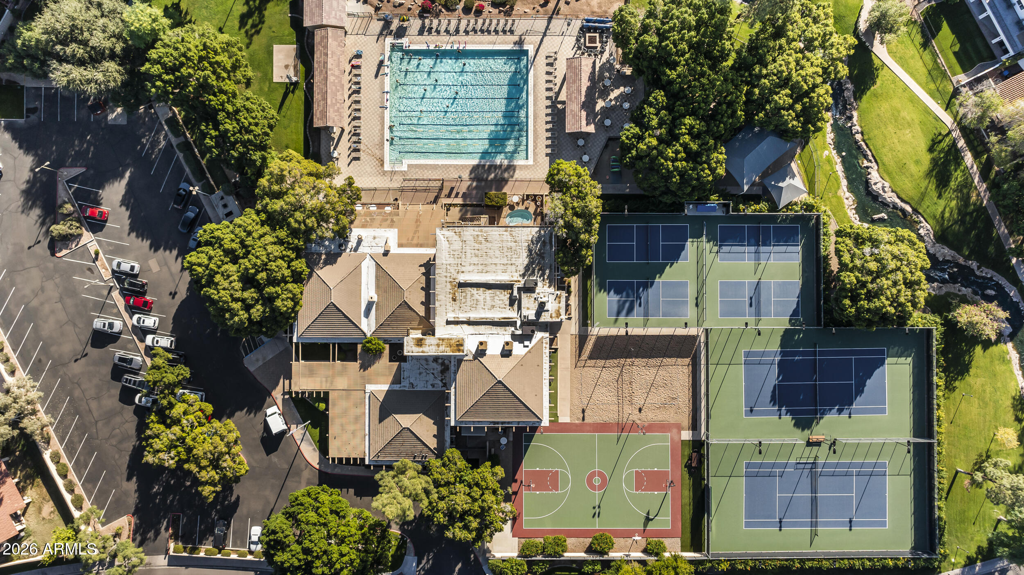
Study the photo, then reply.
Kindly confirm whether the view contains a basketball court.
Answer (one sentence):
Yes, a basketball court appears in the view.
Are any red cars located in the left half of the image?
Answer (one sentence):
Yes, in the left half of the image there is a red car.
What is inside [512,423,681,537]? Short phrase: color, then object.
green basketball court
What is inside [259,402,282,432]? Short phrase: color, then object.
white vehicle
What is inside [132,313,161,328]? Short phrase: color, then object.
white car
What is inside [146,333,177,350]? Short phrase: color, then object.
white car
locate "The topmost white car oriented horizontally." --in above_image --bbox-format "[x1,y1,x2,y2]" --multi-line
[112,260,142,275]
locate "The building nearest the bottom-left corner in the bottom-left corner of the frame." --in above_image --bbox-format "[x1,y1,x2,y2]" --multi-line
[0,453,43,544]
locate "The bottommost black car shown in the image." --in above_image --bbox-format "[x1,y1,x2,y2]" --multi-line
[212,519,229,550]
